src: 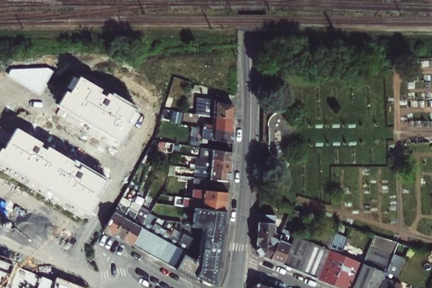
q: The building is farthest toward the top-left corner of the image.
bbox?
[8,68,53,95]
